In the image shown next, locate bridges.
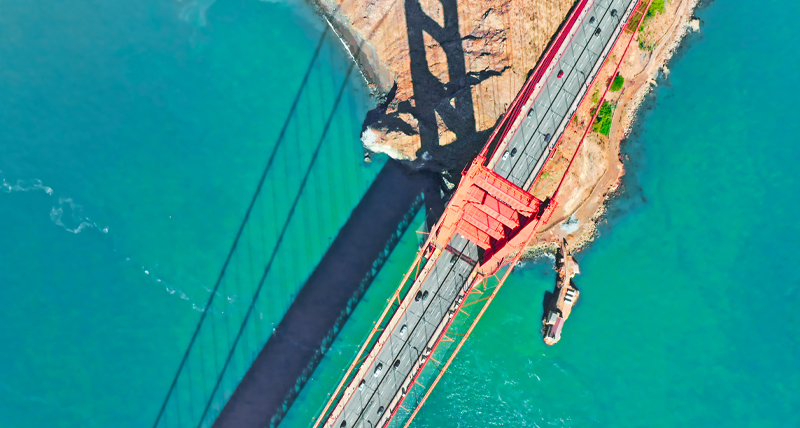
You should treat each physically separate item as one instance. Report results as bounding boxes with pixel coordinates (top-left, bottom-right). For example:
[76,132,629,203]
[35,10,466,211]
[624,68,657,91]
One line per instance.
[312,0,656,428]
